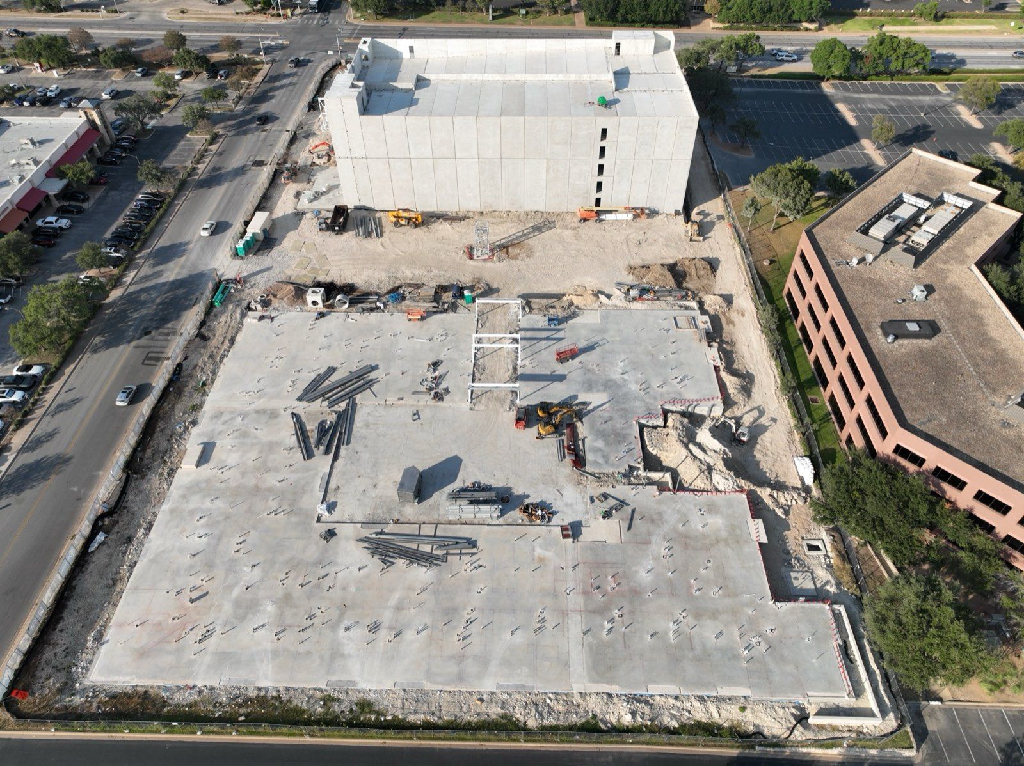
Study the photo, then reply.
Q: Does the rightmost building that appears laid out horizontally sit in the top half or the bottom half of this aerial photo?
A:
top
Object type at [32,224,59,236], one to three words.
vehicle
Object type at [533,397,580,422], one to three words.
work vehicle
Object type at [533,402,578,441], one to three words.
work vehicle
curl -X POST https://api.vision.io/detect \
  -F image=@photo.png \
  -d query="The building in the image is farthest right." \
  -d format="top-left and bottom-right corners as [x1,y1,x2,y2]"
[786,149,1024,587]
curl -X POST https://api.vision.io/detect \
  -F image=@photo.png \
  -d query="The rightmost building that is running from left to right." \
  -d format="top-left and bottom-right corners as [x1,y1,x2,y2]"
[324,30,700,213]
